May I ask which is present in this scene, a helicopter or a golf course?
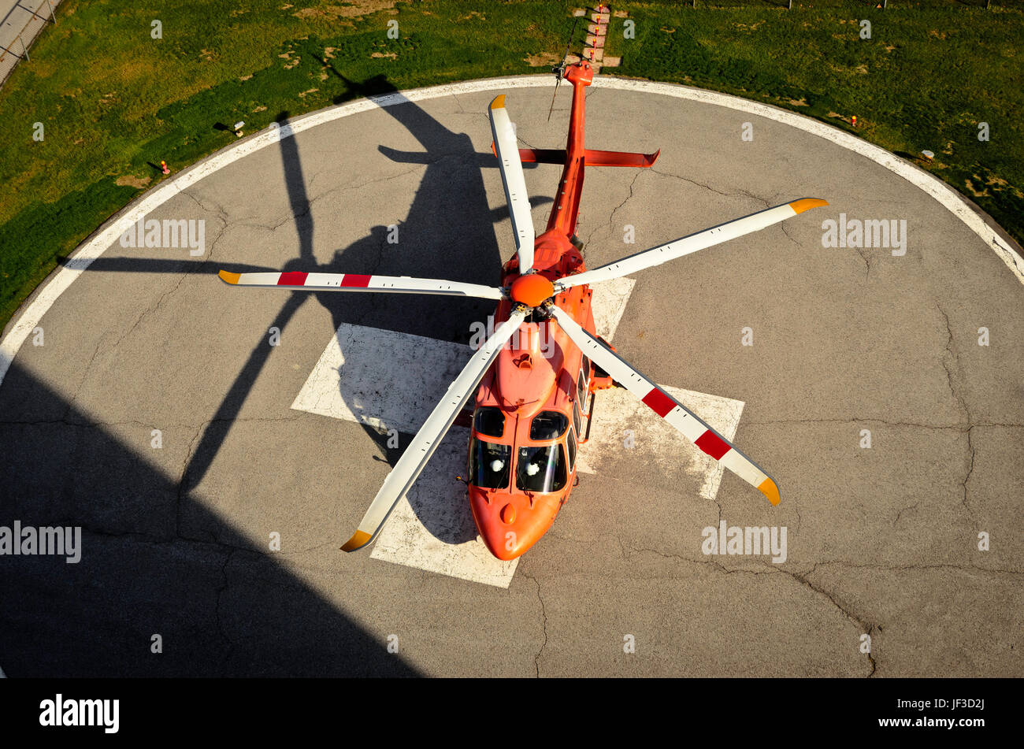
helicopter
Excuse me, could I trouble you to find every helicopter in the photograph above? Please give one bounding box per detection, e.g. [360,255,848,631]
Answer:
[219,17,824,562]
